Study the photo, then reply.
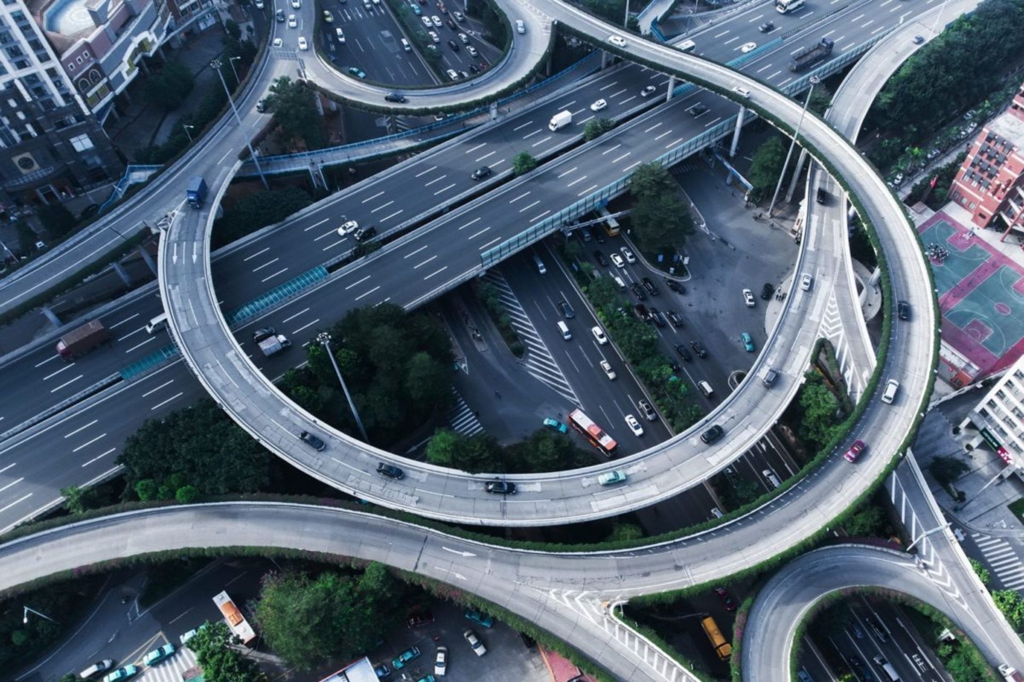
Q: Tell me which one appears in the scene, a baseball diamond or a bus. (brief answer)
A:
bus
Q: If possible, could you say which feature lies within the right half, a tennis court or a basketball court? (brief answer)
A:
basketball court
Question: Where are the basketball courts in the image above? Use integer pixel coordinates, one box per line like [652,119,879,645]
[943,264,1024,357]
[922,220,995,298]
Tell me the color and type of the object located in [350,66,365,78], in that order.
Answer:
blue vehicle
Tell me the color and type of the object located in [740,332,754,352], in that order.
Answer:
blue car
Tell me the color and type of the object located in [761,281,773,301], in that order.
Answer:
black vehicle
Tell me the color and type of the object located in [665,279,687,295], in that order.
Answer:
black car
